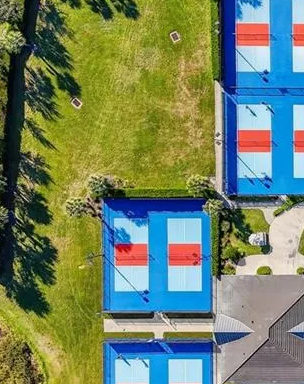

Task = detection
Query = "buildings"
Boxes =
[211,274,304,384]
